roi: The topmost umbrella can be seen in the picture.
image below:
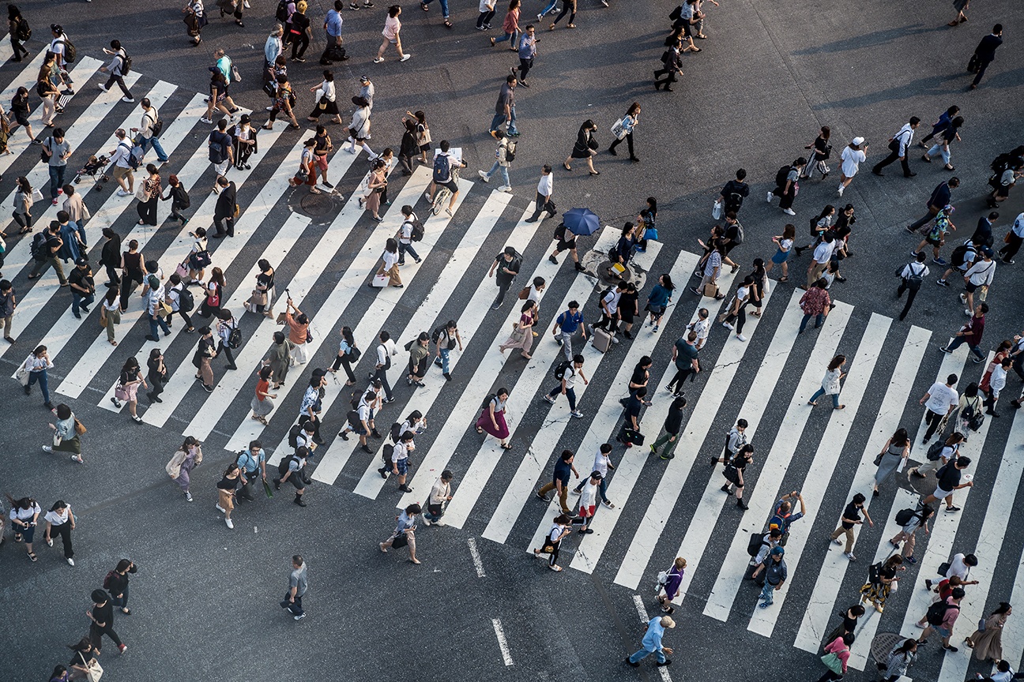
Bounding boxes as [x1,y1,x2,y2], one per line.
[563,205,603,231]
